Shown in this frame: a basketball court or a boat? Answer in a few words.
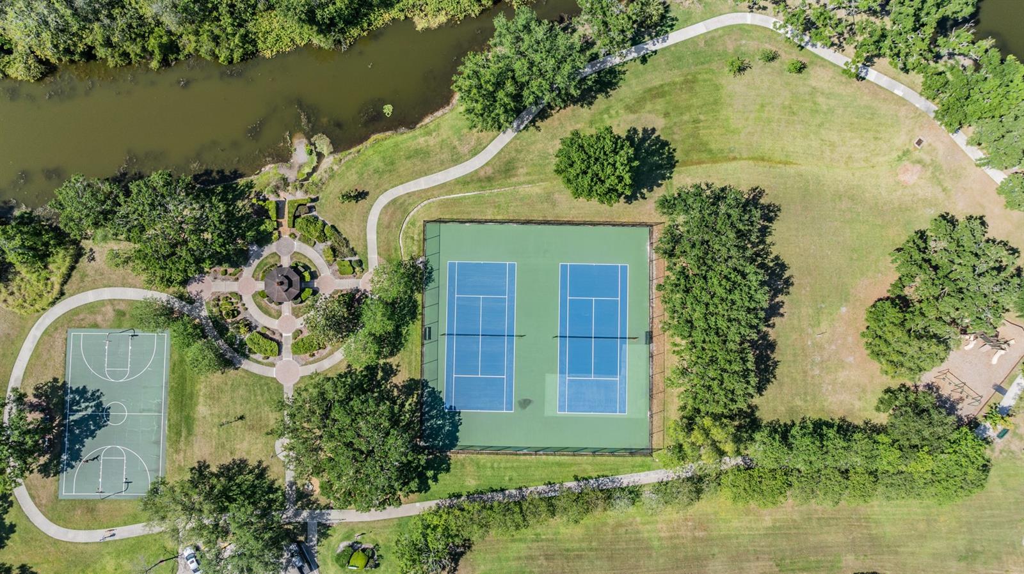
basketball court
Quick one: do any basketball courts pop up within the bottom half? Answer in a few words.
Yes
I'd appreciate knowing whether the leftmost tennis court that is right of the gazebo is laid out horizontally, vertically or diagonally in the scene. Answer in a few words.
vertically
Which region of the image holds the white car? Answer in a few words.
bottom left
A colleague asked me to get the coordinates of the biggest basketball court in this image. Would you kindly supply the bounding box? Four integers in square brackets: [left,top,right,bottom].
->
[59,329,170,500]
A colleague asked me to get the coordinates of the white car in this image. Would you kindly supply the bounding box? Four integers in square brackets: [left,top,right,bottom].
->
[182,545,202,574]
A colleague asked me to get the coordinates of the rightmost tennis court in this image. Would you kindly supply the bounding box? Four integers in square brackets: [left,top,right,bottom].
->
[555,263,636,415]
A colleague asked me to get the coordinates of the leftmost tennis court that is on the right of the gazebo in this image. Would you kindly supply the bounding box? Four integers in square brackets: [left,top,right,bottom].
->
[444,261,516,412]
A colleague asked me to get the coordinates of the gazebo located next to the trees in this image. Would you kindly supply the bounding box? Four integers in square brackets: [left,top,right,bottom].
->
[266,267,304,301]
